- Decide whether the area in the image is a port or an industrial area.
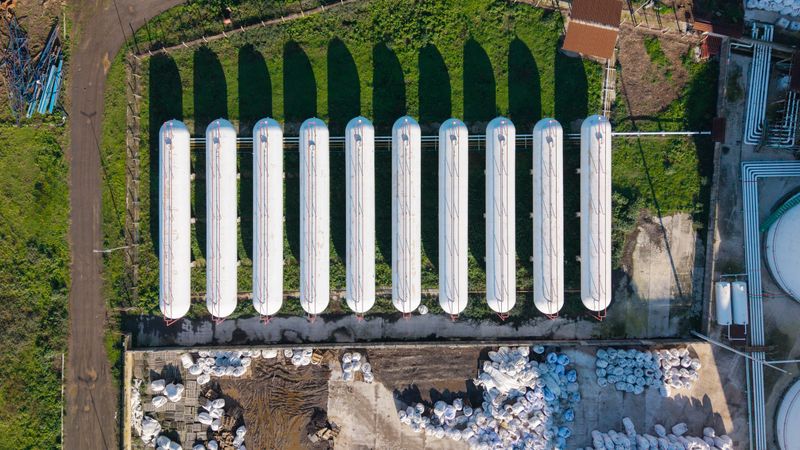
industrial area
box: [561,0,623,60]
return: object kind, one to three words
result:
house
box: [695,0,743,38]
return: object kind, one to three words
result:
barn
